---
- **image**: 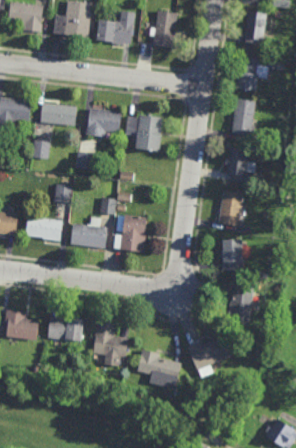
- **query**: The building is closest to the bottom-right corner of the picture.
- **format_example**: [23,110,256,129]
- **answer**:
[274,424,296,448]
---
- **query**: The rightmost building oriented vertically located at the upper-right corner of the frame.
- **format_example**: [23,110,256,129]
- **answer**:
[252,10,268,40]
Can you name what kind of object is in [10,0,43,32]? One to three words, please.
house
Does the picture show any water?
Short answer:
No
